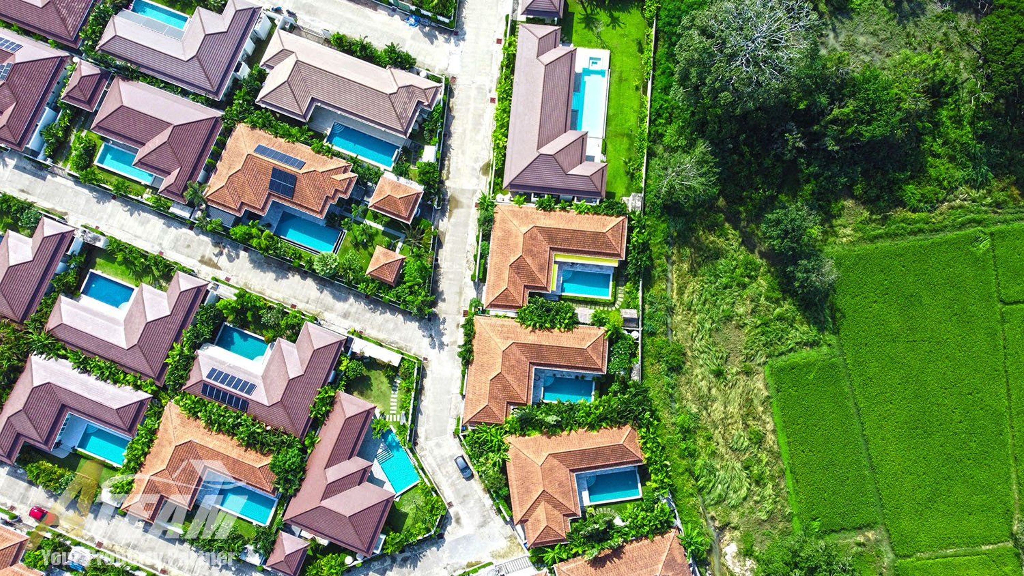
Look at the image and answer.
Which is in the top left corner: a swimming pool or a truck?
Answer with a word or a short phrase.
swimming pool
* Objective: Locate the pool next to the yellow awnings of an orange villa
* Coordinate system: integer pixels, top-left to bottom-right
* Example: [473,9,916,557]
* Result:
[558,267,614,300]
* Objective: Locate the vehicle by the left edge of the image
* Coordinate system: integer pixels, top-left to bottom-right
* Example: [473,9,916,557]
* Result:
[30,505,60,524]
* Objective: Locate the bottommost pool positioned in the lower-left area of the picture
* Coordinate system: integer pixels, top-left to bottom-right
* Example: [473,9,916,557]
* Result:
[209,478,277,528]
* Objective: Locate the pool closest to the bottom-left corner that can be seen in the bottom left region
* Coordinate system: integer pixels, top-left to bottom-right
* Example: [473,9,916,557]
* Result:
[74,420,135,467]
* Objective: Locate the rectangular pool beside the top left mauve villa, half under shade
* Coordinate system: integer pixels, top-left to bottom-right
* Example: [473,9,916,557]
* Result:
[127,0,191,31]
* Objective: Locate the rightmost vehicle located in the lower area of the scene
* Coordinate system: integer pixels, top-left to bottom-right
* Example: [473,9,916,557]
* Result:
[454,454,474,481]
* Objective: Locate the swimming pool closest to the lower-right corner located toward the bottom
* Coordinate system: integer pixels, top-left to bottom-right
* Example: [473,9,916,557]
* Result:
[583,467,643,506]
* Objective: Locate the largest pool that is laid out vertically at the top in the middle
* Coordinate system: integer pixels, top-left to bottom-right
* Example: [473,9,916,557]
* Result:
[574,65,612,140]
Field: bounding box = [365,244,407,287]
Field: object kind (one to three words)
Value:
building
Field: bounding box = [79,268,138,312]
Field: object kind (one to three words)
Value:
swimming pool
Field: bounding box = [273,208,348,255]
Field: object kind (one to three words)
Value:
swimming pool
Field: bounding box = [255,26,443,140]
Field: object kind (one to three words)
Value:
house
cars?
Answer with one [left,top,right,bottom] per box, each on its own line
[454,454,474,481]
[30,505,60,524]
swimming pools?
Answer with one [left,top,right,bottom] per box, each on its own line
[558,267,614,300]
[79,268,138,312]
[93,140,157,188]
[273,208,348,255]
[574,65,612,140]
[74,420,135,467]
[588,55,602,64]
[209,478,277,528]
[323,118,404,171]
[212,321,273,363]
[377,426,418,496]
[127,0,191,31]
[583,467,643,506]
